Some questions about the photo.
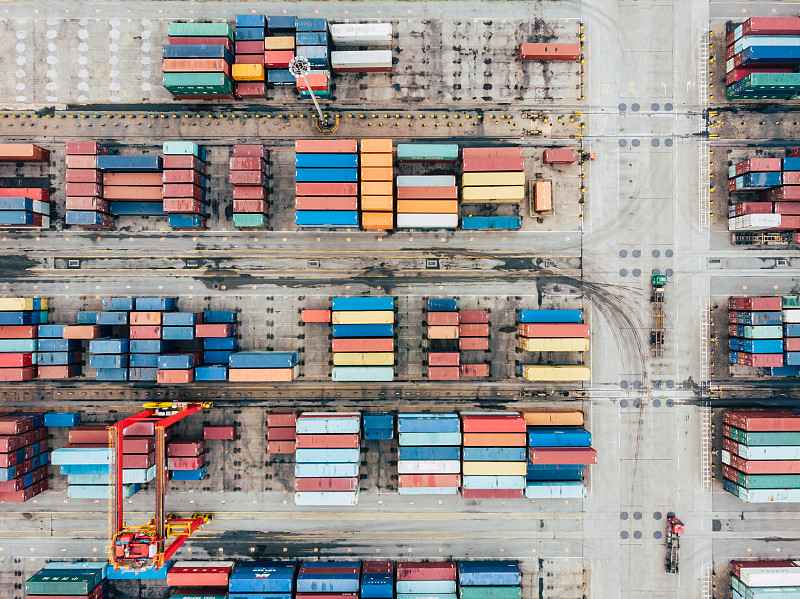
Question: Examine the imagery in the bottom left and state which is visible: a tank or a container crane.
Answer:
container crane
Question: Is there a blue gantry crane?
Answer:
No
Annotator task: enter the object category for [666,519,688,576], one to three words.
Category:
truck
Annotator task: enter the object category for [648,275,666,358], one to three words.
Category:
vehicle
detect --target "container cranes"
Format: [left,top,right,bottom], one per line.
[102,401,216,574]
